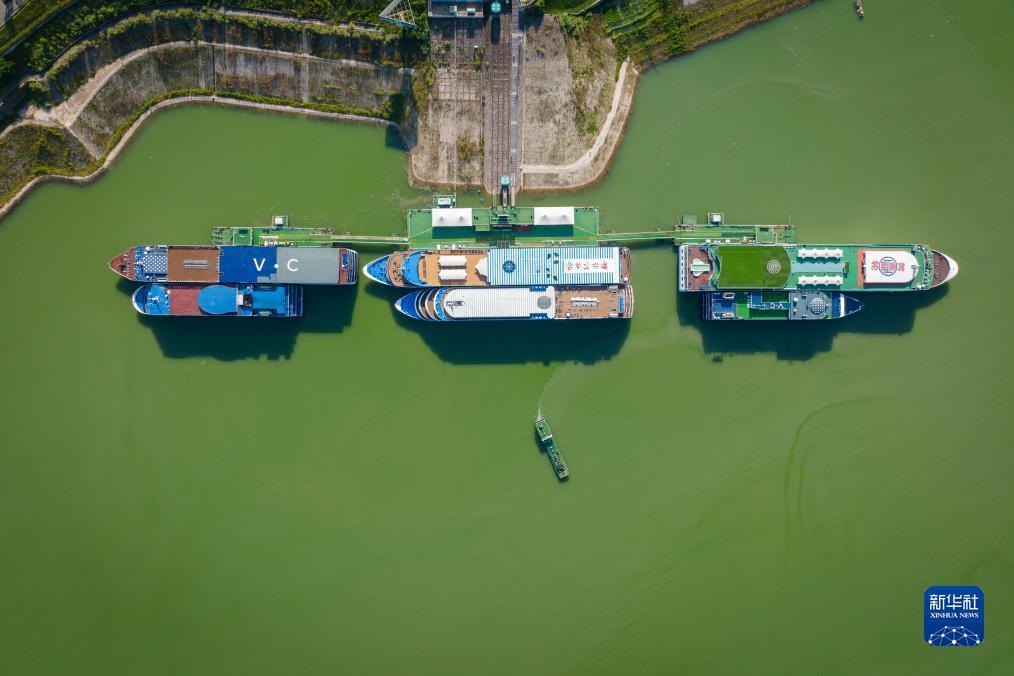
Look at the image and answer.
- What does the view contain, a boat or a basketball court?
boat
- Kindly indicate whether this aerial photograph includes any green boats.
Yes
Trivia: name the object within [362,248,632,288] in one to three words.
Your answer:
ship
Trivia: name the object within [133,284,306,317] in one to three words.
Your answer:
ship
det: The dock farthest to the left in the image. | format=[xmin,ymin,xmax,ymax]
[212,227,334,245]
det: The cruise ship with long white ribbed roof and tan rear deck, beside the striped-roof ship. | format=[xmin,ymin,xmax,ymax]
[395,287,634,321]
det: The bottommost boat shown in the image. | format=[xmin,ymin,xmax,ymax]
[535,418,567,478]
